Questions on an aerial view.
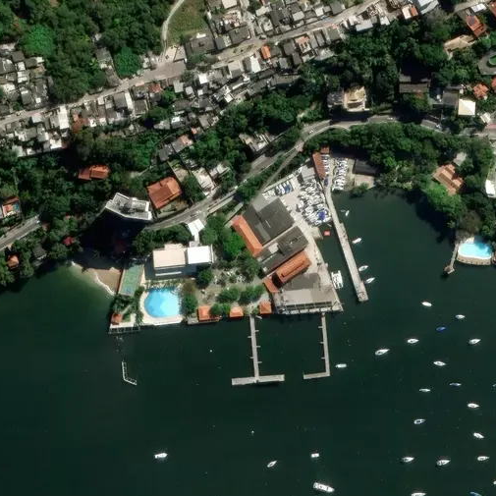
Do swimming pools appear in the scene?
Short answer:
Yes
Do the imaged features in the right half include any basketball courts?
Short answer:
No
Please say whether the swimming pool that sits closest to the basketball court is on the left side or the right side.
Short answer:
left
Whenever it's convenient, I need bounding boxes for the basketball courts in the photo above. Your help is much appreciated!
[119,264,143,295]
